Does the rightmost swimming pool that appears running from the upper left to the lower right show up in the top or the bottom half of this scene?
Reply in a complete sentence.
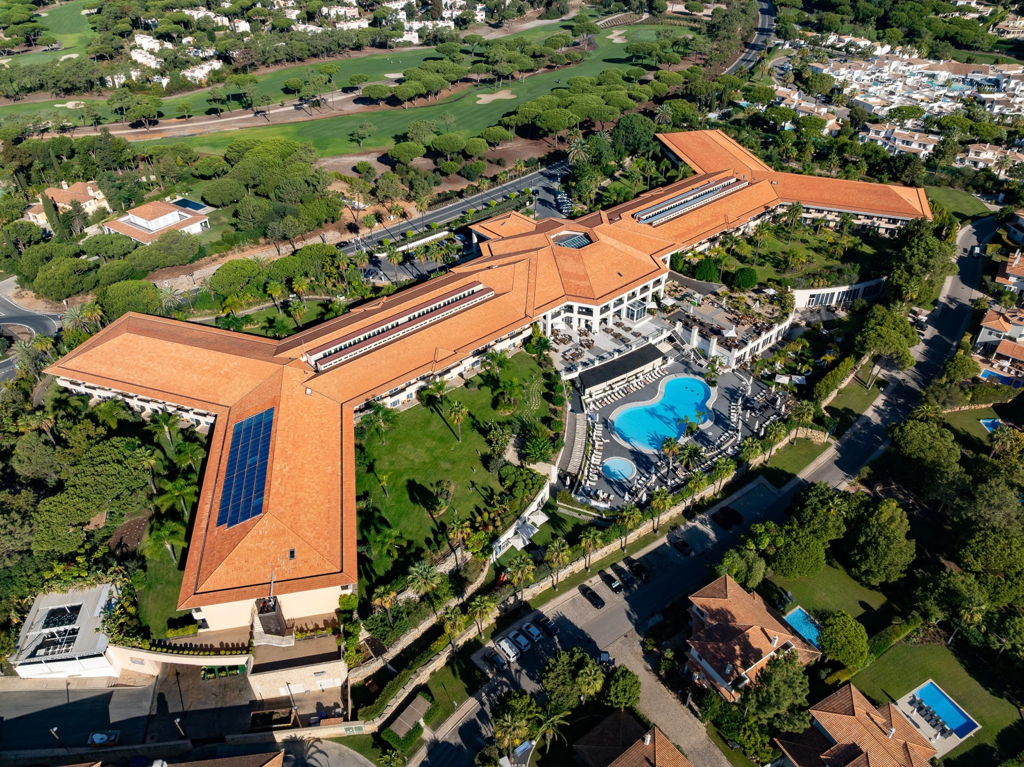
It is in the bottom half that the rightmost swimming pool that appears running from the upper left to the lower right appears.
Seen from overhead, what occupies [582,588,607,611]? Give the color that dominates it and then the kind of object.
black car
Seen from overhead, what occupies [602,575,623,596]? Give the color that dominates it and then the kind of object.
black car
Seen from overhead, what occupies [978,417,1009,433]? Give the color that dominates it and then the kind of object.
blue swimming pool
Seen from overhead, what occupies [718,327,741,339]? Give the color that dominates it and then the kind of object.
white umbrella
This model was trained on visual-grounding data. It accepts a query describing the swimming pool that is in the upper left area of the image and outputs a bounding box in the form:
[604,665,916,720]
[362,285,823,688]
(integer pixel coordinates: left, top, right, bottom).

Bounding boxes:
[168,195,214,213]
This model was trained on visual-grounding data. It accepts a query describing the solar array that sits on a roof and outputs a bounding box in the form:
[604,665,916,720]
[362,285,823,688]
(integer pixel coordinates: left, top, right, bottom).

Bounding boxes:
[216,406,274,529]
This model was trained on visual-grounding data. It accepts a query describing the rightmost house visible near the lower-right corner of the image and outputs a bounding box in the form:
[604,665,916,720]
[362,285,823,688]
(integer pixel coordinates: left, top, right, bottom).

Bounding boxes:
[774,682,943,767]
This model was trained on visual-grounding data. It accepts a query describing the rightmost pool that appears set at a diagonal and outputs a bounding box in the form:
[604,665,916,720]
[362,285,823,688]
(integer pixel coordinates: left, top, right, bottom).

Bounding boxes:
[911,677,985,743]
